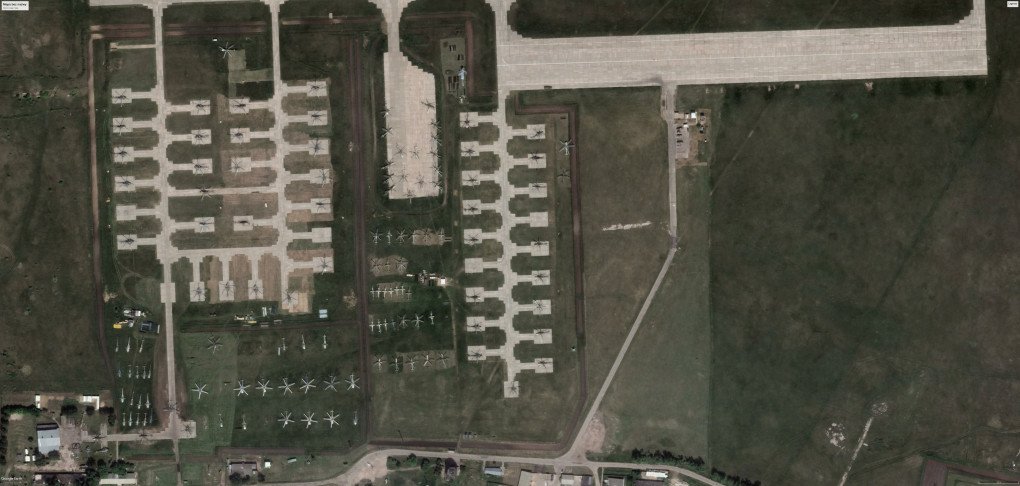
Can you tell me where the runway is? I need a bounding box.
[497,24,988,91]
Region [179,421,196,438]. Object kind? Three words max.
helipad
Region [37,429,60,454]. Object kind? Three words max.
hangar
